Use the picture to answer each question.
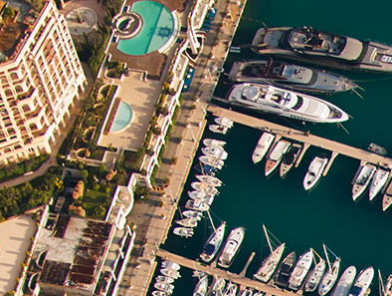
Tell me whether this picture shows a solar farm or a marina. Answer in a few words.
marina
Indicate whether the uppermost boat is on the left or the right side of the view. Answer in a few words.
right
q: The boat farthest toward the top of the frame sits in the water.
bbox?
[250,30,392,73]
